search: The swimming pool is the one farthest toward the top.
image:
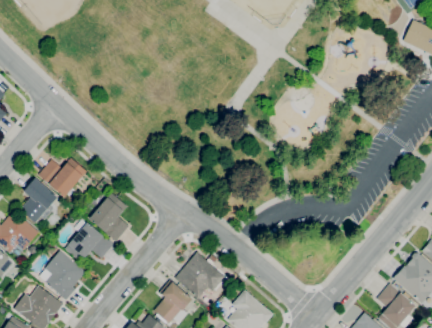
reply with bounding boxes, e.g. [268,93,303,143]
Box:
[58,223,74,245]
